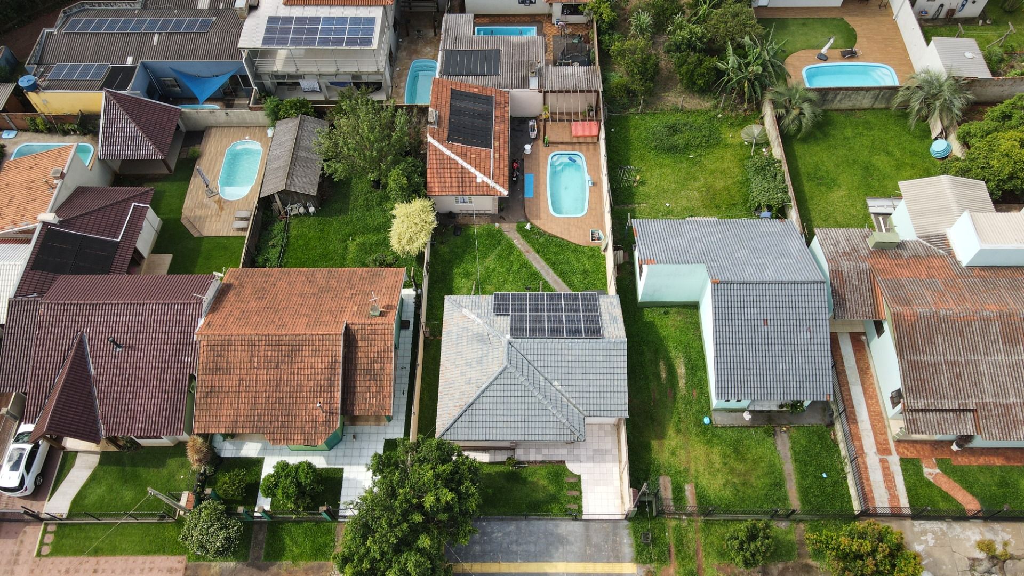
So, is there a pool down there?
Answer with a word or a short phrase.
Yes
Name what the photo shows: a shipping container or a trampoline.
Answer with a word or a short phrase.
trampoline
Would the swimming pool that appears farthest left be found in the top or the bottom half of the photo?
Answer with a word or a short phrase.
top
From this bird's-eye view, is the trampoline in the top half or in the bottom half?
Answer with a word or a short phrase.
top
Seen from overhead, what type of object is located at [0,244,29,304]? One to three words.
shed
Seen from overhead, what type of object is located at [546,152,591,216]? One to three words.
swimming pool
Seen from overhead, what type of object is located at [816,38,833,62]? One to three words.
umbrella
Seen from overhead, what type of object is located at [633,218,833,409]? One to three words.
house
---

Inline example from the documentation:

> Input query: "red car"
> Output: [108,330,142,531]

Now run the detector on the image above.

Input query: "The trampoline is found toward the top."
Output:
[558,32,594,66]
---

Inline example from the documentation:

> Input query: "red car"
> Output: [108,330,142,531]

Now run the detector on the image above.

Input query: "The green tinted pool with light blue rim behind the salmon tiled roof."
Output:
[10,143,94,163]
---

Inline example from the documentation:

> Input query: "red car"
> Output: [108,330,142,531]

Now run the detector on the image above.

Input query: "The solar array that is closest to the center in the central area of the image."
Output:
[494,292,601,338]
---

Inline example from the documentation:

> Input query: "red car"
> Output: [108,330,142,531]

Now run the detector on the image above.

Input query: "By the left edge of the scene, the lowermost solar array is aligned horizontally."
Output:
[47,64,109,79]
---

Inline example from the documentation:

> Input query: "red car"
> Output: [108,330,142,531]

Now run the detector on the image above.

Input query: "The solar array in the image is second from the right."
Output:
[262,17,375,47]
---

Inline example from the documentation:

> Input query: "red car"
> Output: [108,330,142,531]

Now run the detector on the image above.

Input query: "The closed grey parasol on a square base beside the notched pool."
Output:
[197,168,218,197]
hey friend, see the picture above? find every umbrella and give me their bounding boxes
[816,38,833,62]
[197,168,218,197]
